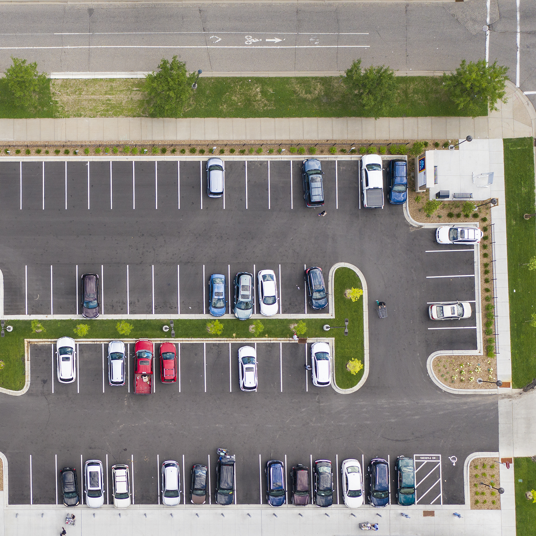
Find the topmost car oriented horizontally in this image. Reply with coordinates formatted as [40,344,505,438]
[435,224,485,245]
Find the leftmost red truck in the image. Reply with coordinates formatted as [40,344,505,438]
[132,340,155,394]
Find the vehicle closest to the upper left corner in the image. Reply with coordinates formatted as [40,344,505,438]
[205,158,227,198]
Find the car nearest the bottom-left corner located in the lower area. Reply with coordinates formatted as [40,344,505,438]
[59,466,80,507]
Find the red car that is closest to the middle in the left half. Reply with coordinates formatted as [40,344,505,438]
[158,342,179,384]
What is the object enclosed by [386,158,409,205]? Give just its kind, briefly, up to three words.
car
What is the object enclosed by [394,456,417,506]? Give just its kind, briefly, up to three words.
car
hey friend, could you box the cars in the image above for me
[427,300,471,322]
[367,458,391,508]
[111,465,132,509]
[160,460,183,506]
[256,270,279,316]
[84,459,105,508]
[189,465,210,505]
[313,459,335,508]
[309,342,333,387]
[56,337,77,384]
[214,459,237,506]
[394,456,417,506]
[435,224,485,245]
[208,274,229,317]
[233,272,255,320]
[205,158,227,198]
[59,466,80,507]
[158,342,179,384]
[303,266,329,309]
[264,460,287,507]
[301,158,325,209]
[106,341,128,386]
[386,158,409,205]
[341,458,364,508]
[288,465,312,507]
[80,273,101,319]
[237,346,259,392]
